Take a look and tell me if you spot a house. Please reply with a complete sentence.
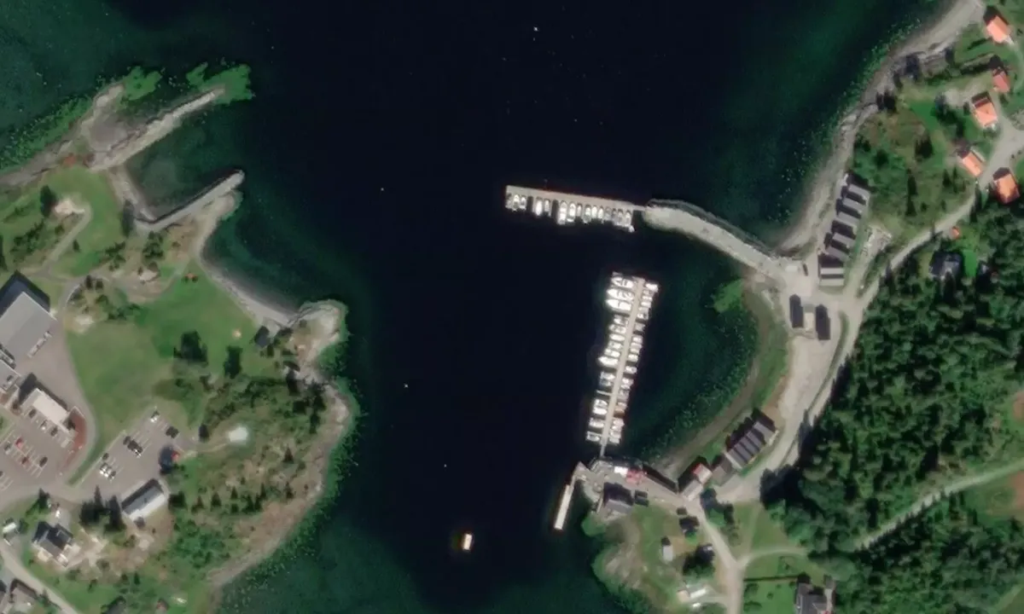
Yes, this view includes a house.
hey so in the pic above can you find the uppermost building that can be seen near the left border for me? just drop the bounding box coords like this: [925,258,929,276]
[0,292,56,364]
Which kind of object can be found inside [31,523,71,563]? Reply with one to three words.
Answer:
house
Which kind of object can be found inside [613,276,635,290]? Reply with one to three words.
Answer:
boat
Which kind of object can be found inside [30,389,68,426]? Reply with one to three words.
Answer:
building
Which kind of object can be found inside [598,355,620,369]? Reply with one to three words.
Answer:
boat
